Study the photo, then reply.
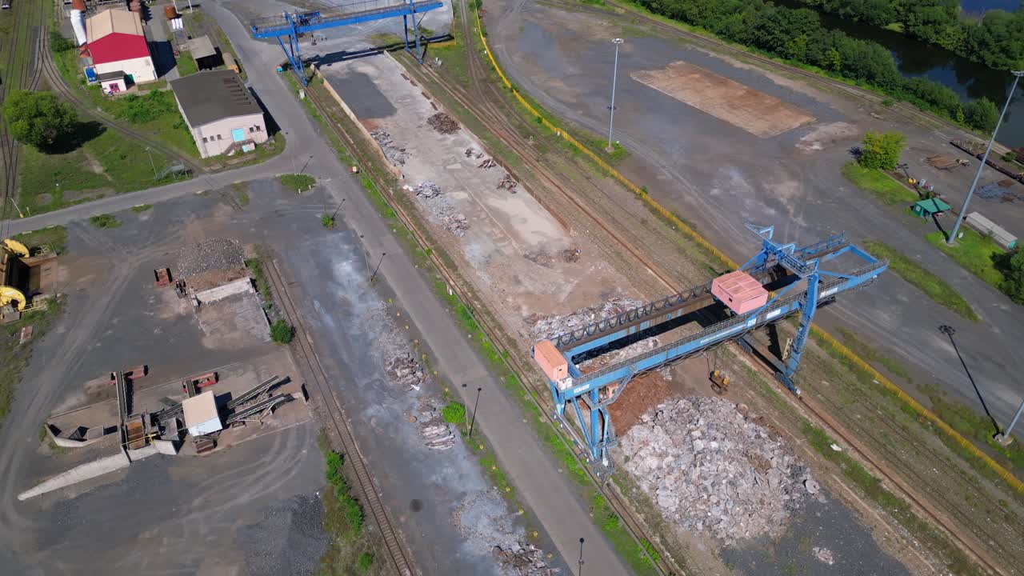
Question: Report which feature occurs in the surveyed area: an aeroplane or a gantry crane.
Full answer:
Visible in the photo is a gantry crane.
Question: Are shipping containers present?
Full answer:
Yes, a shipping container is visible in the scene.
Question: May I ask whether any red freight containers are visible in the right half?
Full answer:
No, looking in the right half, there is no red freight container.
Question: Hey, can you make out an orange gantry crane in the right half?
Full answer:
No, in the right half there is no orange gantry crane.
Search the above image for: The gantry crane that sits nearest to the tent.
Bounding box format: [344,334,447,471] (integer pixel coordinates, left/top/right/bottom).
[527,211,890,485]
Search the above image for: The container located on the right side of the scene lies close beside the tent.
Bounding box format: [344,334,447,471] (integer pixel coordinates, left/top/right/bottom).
[962,208,1019,247]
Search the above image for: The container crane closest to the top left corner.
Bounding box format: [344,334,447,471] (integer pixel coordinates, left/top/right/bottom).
[251,0,445,90]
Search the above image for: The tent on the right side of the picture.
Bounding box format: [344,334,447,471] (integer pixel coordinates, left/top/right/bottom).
[909,198,951,225]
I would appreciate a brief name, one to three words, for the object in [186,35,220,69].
shed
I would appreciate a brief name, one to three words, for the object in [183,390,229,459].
shed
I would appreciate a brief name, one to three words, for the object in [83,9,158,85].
building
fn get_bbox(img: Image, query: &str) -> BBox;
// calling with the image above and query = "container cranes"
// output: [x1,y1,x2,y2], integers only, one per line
[251,0,445,90]
[527,211,890,485]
